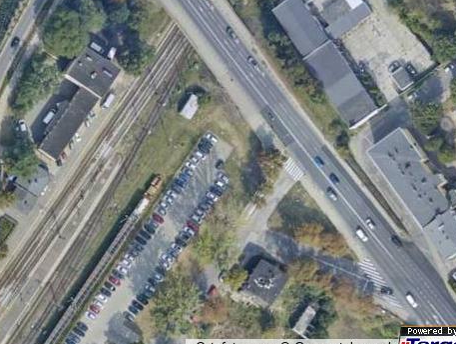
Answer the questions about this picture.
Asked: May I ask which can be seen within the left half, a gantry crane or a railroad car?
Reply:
railroad car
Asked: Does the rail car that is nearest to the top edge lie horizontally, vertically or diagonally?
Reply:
diagonally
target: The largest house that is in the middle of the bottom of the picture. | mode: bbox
[240,258,288,306]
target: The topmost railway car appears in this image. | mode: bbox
[141,174,162,201]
